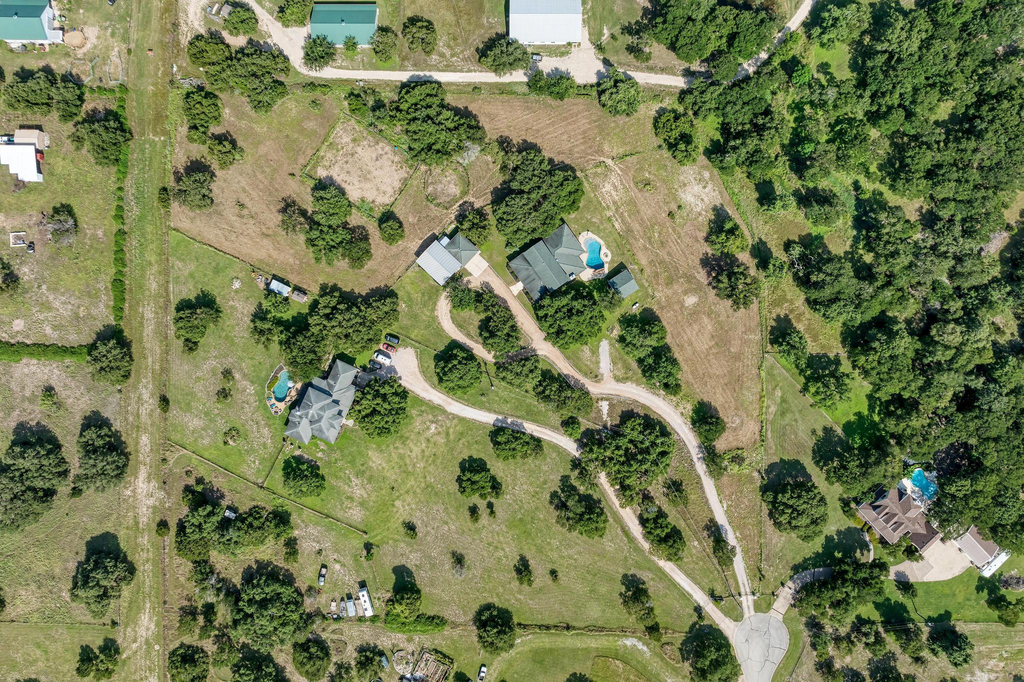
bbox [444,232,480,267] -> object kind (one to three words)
building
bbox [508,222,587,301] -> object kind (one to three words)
house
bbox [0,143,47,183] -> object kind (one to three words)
house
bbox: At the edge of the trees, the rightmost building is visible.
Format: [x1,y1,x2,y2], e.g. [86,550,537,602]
[951,523,999,567]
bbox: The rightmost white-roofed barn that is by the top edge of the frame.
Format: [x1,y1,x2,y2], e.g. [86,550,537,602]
[509,0,582,46]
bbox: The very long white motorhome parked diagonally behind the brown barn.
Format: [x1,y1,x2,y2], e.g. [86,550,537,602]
[977,546,1011,578]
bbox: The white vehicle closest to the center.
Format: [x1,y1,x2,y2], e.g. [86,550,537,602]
[374,351,392,364]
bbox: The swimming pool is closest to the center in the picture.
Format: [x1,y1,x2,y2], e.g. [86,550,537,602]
[579,231,611,281]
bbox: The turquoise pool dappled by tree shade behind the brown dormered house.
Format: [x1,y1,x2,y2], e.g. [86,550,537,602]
[901,463,943,510]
